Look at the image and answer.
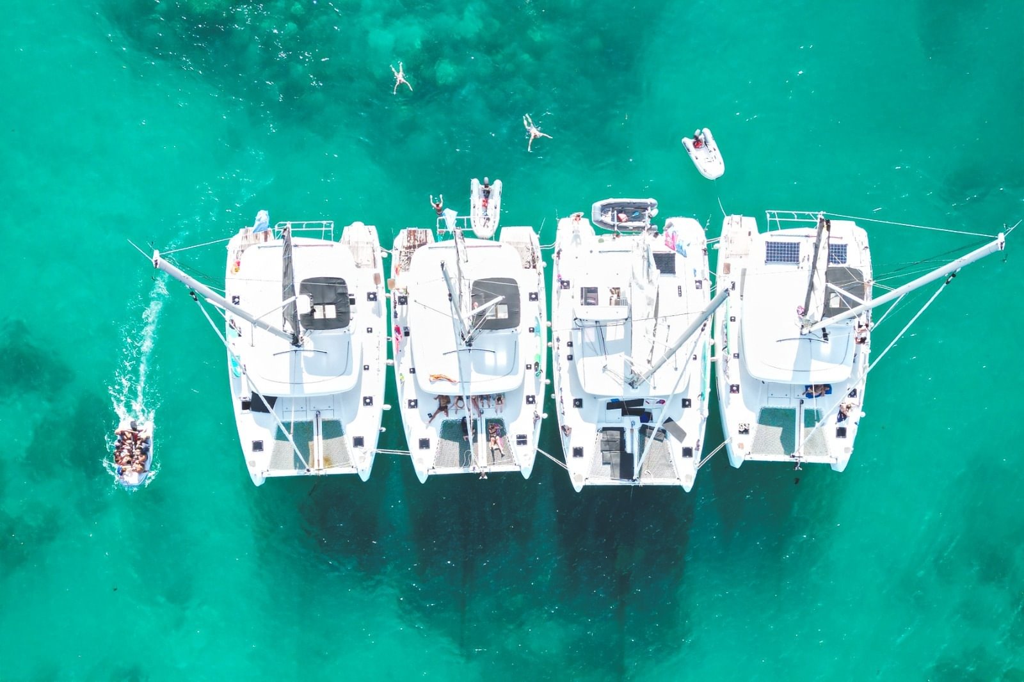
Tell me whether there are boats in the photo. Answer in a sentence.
Yes, there's a boat here.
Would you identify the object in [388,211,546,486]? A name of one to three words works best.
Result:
boat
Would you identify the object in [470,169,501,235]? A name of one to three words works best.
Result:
boat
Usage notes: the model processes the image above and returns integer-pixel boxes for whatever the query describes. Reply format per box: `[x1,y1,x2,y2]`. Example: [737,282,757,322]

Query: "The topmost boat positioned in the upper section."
[681,121,724,176]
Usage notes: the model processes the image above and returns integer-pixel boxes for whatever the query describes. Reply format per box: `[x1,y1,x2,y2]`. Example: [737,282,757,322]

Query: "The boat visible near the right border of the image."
[711,202,1024,476]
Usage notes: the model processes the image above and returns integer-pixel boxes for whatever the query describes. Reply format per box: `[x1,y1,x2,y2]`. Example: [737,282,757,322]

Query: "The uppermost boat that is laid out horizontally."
[593,198,665,230]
